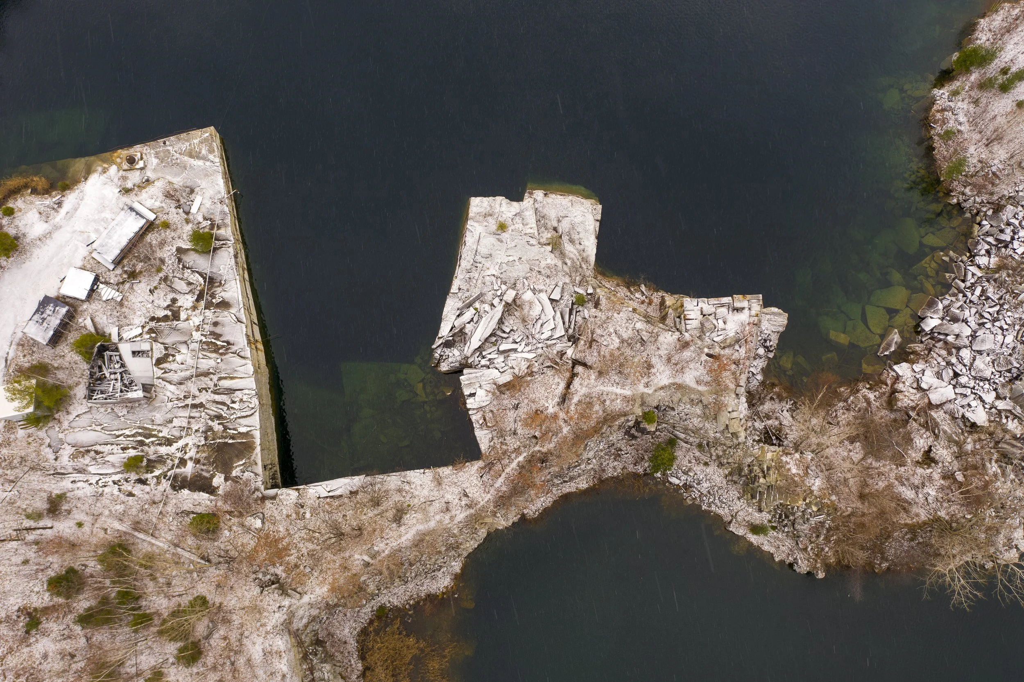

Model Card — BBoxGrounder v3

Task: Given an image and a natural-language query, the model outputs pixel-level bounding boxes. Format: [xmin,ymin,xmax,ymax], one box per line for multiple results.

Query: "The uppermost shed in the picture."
[90,201,161,271]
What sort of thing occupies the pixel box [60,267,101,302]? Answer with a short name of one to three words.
shed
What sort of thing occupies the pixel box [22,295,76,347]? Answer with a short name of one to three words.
shed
